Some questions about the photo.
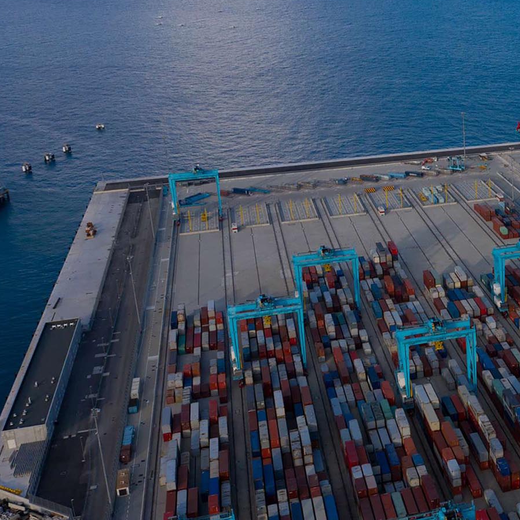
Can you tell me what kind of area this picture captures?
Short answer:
port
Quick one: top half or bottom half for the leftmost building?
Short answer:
bottom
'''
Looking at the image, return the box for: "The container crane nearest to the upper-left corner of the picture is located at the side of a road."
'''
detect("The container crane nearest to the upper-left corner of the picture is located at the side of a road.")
[169,162,222,226]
